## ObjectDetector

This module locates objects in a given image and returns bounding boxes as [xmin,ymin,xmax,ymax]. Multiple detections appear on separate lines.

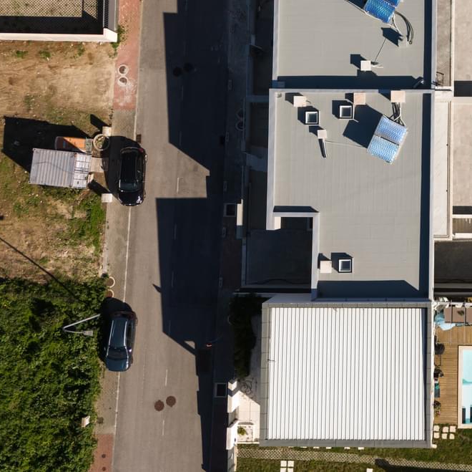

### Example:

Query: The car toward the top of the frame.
[114,142,148,206]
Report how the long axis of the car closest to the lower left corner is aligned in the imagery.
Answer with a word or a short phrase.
up and down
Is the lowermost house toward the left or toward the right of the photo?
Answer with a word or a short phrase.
right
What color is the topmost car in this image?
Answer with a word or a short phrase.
black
